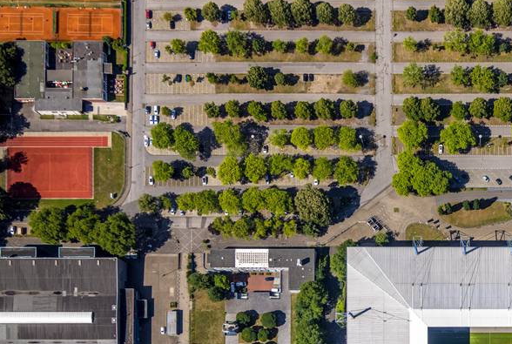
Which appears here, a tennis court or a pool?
tennis court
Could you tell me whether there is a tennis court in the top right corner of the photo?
No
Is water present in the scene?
No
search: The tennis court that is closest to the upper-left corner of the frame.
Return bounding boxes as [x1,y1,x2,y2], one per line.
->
[0,7,53,40]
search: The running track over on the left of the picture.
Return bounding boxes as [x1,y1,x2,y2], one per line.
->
[1,132,111,148]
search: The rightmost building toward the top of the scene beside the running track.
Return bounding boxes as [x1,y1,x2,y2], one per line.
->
[73,41,108,102]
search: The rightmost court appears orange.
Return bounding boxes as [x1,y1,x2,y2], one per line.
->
[59,8,120,40]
